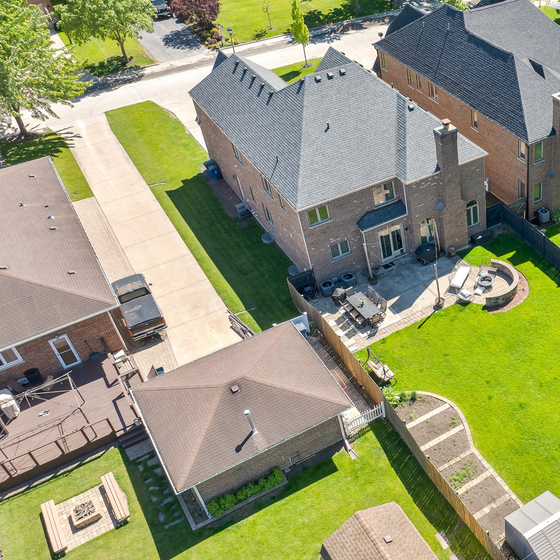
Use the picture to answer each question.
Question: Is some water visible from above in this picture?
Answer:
No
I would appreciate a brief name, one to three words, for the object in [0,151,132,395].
house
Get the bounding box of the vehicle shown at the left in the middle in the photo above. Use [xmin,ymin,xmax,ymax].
[112,273,167,338]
